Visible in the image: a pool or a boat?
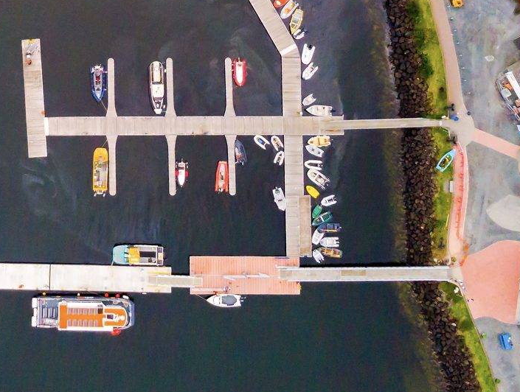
boat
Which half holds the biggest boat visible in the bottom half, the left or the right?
left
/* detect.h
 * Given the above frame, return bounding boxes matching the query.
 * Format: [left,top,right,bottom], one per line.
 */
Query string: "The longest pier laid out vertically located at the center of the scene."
[281,57,303,257]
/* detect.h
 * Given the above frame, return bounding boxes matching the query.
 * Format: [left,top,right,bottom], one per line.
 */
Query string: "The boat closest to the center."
[272,186,286,211]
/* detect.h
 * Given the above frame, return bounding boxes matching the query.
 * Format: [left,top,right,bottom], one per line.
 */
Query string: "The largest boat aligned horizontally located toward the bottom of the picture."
[29,294,134,334]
